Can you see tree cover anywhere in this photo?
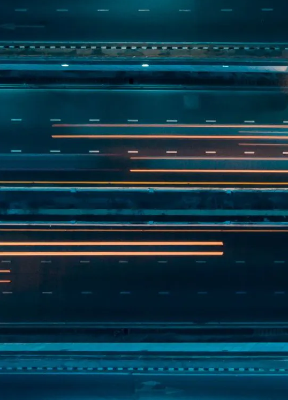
No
